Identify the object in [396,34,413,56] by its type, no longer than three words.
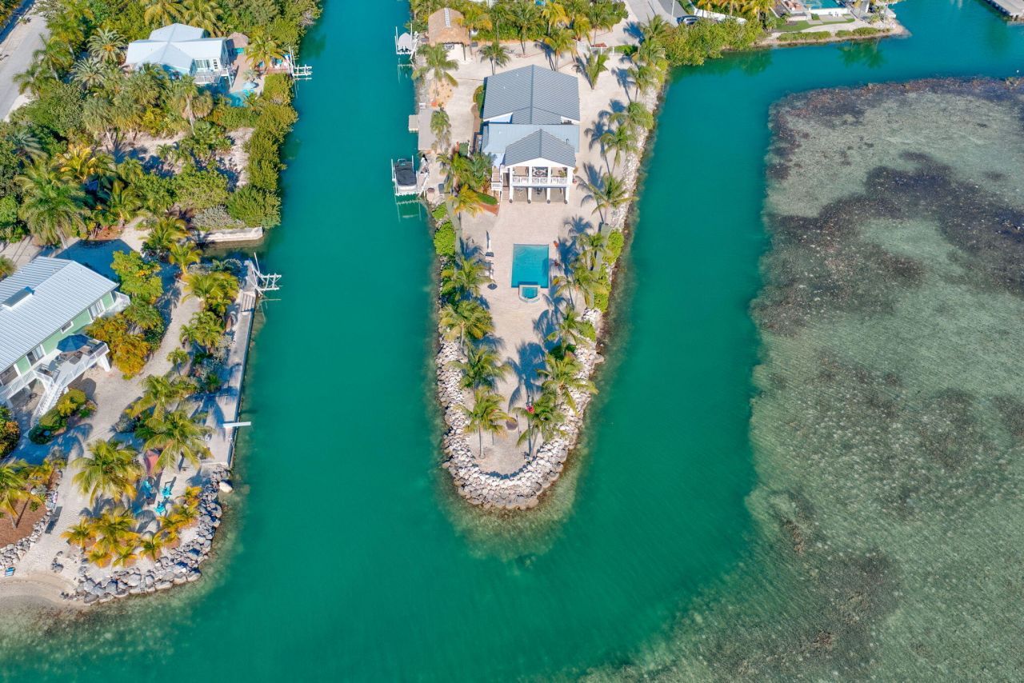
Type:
boat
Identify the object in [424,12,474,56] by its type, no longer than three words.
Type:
shed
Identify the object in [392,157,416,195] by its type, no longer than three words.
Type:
boat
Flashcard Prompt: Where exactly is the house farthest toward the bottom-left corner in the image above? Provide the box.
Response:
[0,261,133,428]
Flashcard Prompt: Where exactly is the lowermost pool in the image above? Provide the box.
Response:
[508,242,552,299]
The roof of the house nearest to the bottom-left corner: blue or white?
white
